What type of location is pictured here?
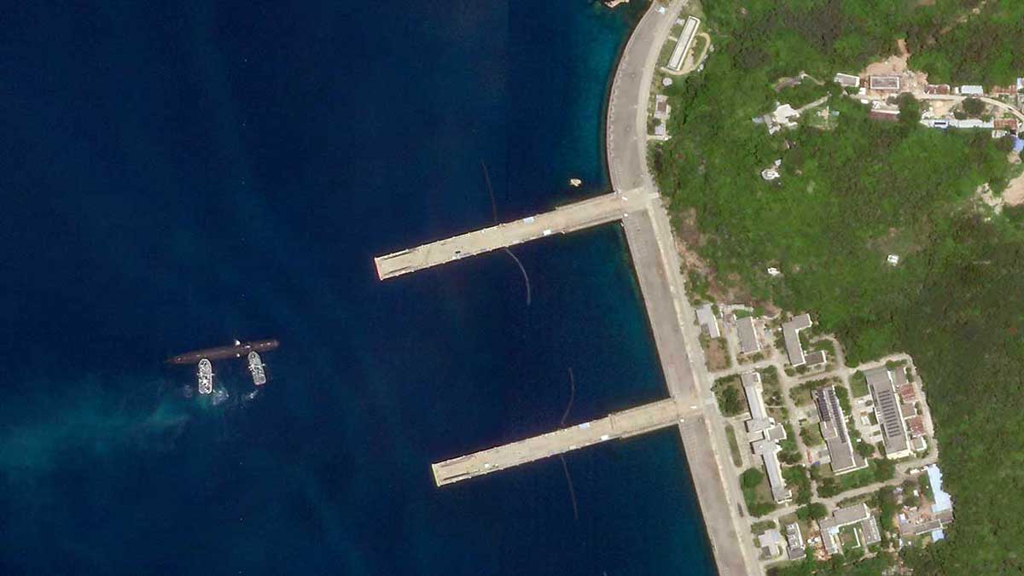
port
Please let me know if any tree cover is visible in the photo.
Yes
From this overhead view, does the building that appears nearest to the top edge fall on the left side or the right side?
right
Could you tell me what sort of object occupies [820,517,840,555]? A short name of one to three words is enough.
building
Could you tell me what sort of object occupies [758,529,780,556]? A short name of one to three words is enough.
house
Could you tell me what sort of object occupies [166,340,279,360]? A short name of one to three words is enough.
ship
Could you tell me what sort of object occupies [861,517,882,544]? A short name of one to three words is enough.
building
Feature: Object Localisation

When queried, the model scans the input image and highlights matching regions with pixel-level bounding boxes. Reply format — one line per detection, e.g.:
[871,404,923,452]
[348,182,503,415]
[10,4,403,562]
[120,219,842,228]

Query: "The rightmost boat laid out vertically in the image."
[248,350,267,387]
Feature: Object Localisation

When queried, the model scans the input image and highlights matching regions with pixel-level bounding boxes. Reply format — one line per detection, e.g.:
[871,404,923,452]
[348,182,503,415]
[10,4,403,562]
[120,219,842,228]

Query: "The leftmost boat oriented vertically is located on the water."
[195,357,213,396]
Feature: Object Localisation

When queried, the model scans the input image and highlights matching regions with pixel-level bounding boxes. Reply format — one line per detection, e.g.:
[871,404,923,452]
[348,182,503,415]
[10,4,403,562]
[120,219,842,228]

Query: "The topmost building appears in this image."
[667,16,701,72]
